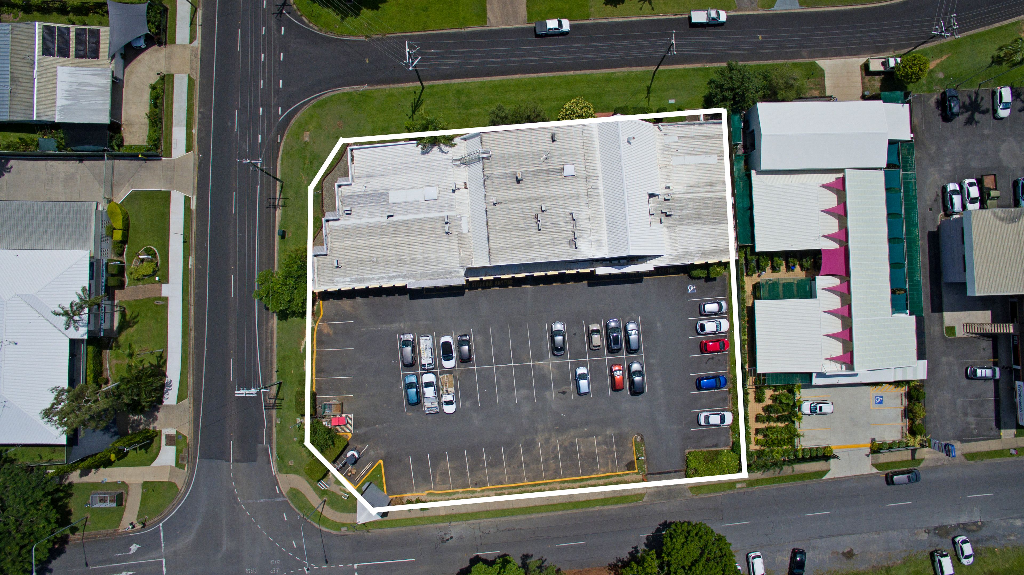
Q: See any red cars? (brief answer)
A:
Yes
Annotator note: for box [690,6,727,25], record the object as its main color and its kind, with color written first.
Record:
white vehicle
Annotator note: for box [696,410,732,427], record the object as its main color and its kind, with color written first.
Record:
white car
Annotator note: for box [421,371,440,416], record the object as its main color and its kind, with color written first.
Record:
white vehicle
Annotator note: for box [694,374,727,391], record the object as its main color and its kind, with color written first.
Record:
blue car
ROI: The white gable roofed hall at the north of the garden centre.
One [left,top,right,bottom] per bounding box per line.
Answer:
[747,101,911,173]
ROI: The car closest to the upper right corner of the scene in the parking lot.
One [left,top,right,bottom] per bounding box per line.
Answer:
[991,87,1011,120]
